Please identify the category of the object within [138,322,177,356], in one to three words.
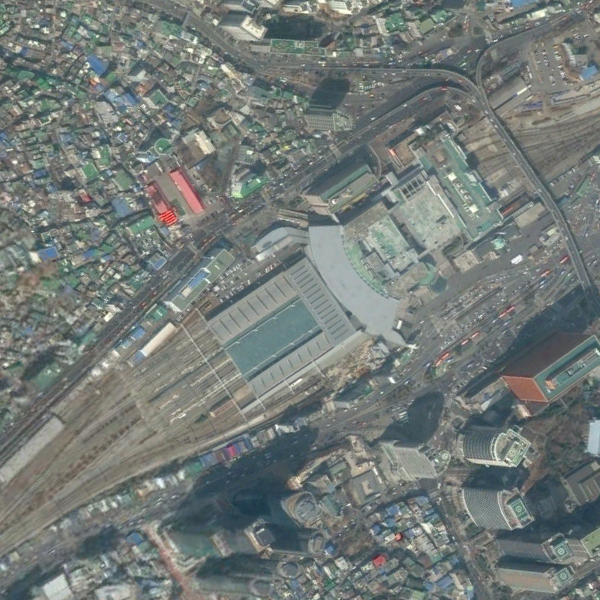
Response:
shed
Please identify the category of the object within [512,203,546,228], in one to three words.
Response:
building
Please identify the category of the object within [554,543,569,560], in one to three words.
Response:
helipad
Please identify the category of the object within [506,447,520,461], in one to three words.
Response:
helipad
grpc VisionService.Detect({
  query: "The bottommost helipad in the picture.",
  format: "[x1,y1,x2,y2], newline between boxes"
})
[555,568,571,585]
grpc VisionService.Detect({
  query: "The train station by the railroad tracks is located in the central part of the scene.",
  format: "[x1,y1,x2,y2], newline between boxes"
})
[202,225,405,405]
